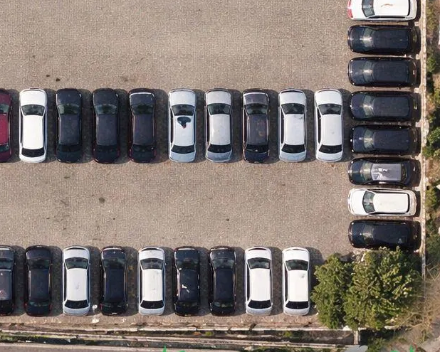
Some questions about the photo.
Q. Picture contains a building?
No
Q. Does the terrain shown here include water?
No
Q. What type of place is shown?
parking lot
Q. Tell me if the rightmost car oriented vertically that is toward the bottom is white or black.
white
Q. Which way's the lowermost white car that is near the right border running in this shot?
horizontally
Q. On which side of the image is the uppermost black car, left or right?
right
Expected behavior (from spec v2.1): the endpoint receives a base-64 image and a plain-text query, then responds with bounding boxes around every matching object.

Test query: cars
[349,124,420,157]
[347,0,420,21]
[282,244,313,317]
[0,245,16,318]
[347,187,420,218]
[245,244,274,317]
[0,87,13,164]
[172,244,202,317]
[347,23,420,55]
[240,89,271,164]
[18,86,48,163]
[23,245,52,318]
[98,245,128,318]
[347,55,420,89]
[314,89,345,164]
[277,86,309,163]
[347,218,419,250]
[204,89,235,165]
[138,244,168,317]
[54,87,84,164]
[168,89,198,164]
[346,157,419,187]
[127,87,157,164]
[62,244,91,317]
[208,244,238,317]
[90,87,121,164]
[349,90,420,123]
